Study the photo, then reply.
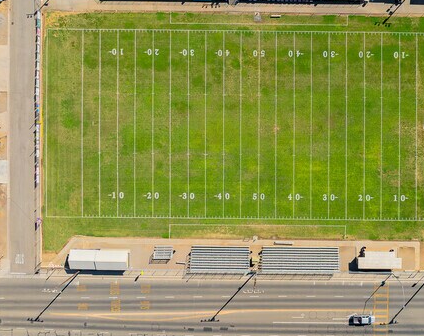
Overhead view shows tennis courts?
No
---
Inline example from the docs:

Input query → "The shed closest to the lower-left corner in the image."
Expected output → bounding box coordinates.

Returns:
[68,248,97,269]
